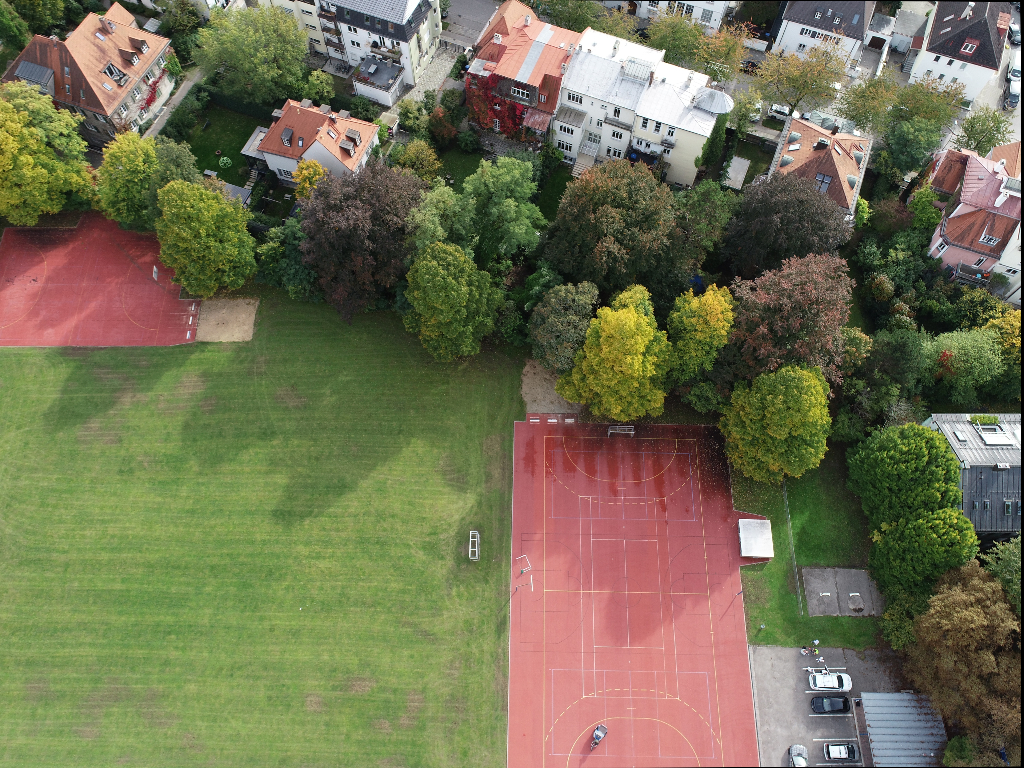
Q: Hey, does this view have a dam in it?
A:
No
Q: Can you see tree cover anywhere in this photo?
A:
Yes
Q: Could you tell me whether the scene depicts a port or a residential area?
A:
residential area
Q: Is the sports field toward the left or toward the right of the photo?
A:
left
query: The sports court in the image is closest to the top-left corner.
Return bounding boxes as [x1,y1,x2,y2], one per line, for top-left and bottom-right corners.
[0,213,202,346]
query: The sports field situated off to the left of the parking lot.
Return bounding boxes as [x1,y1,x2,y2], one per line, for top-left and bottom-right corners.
[0,205,548,768]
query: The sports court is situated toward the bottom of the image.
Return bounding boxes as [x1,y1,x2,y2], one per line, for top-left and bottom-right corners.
[507,413,772,768]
